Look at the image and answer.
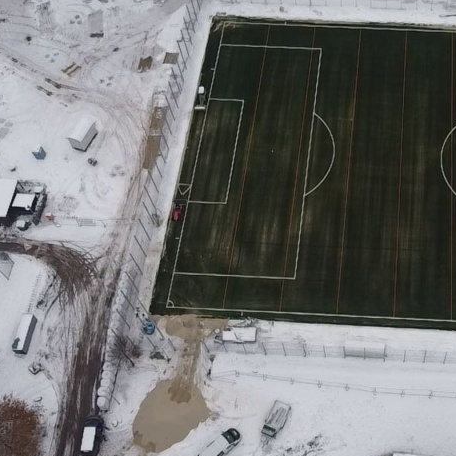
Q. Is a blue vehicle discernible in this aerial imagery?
No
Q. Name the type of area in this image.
sports ground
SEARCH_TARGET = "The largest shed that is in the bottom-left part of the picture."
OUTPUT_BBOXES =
[14,314,38,354]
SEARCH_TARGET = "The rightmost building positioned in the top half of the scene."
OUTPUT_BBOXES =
[66,116,98,151]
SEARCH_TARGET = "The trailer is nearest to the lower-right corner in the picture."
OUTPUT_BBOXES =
[260,399,292,449]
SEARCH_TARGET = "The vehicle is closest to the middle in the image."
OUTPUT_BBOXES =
[173,195,188,220]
